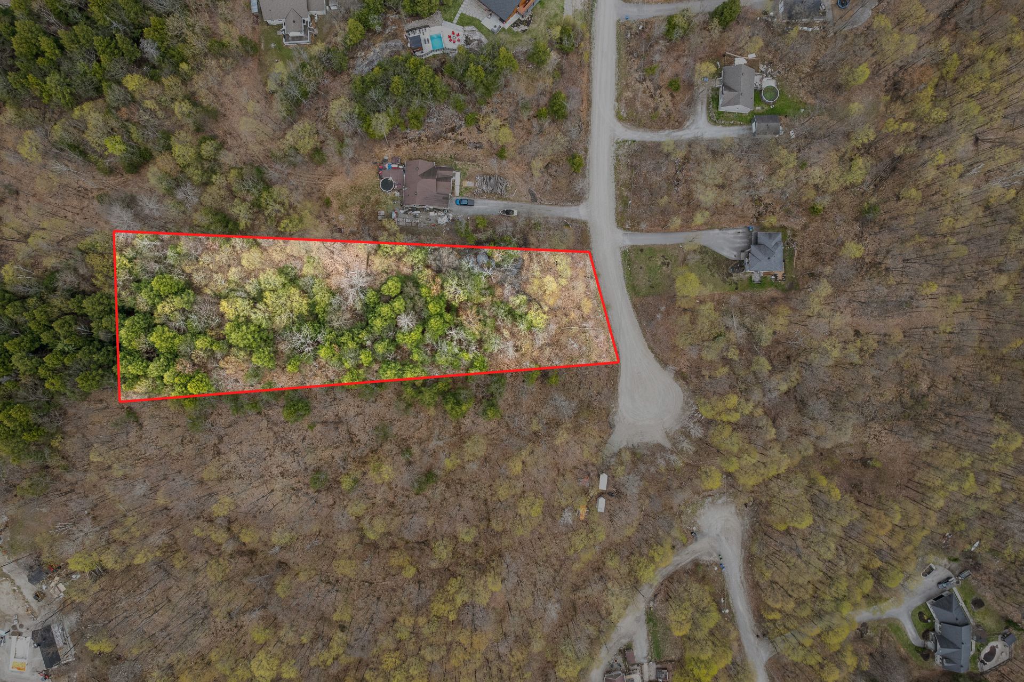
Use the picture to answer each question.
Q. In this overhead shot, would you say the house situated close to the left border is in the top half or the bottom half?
bottom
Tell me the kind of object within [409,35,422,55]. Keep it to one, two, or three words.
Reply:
gazebo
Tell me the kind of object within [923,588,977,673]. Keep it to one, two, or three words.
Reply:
house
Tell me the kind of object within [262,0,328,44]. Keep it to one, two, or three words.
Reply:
house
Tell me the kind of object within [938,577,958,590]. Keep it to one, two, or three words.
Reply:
vehicle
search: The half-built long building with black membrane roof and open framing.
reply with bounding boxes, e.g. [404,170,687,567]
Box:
[32,615,75,668]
